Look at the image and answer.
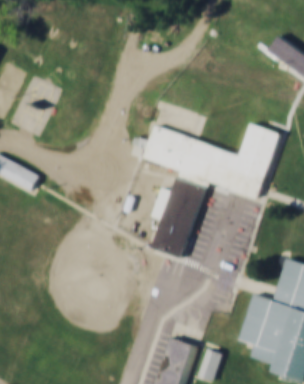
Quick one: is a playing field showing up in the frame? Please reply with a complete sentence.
Yes, the photo shows a playing field.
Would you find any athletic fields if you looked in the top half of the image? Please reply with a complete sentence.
No, no athletic field is visible in the top half of the image.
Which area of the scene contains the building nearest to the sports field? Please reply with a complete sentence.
Look in the center portion of the view to spot the building nearest to the sports field.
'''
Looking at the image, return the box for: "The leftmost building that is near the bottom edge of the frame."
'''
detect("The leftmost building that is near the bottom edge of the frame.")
[156,339,199,384]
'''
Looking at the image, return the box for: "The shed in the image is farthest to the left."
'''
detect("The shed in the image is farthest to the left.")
[0,154,41,189]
